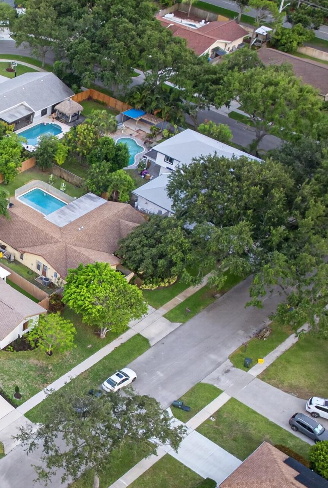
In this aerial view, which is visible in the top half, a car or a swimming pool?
swimming pool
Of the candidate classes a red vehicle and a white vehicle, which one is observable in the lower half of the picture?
white vehicle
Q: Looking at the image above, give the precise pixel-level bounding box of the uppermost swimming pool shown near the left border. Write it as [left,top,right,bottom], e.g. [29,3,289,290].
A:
[16,121,63,145]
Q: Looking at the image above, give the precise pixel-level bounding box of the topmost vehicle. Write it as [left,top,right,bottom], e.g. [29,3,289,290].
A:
[103,365,137,390]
